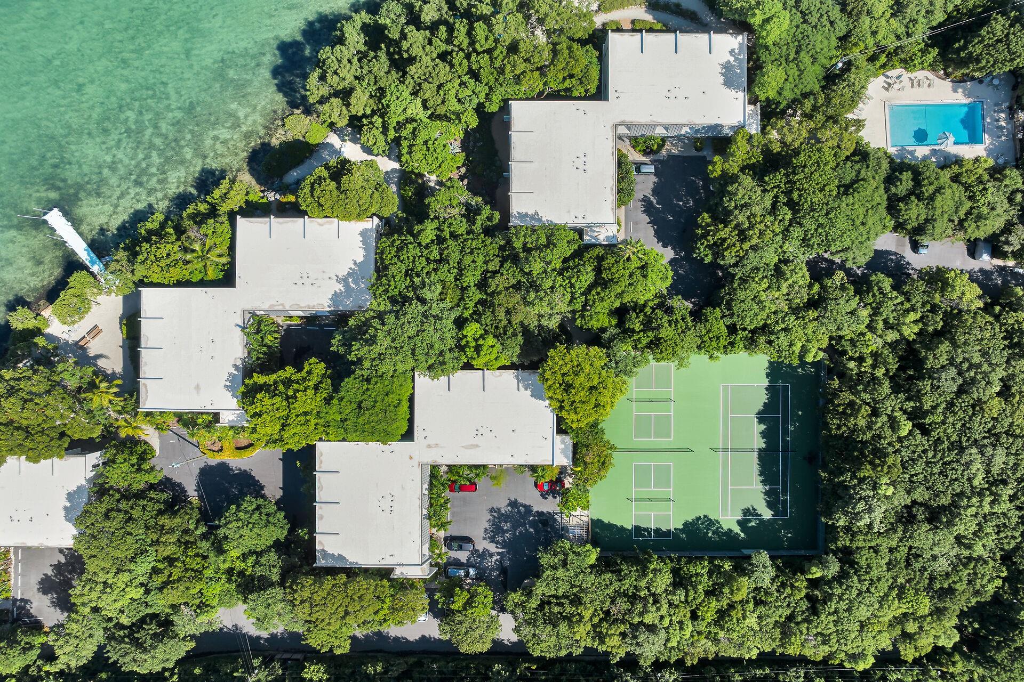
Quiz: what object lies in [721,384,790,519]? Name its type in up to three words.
tennis court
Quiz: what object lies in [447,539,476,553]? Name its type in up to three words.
car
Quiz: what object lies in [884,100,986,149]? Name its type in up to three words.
swimming pool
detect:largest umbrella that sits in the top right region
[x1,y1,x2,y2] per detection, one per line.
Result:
[935,130,954,147]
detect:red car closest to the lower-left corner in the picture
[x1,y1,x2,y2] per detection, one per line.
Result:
[448,482,478,496]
